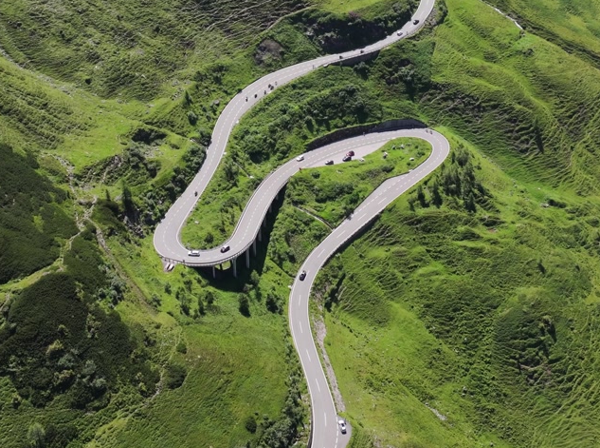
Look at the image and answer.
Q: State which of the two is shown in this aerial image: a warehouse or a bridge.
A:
bridge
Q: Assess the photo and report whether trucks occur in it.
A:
No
